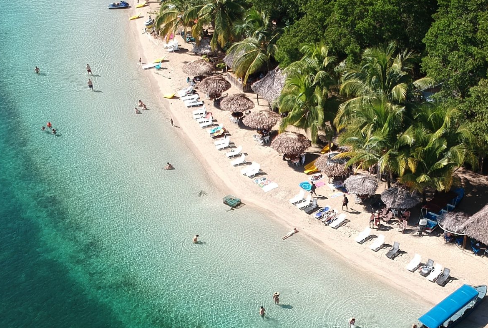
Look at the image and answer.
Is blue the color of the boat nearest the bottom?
Yes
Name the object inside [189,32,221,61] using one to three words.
umbrella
